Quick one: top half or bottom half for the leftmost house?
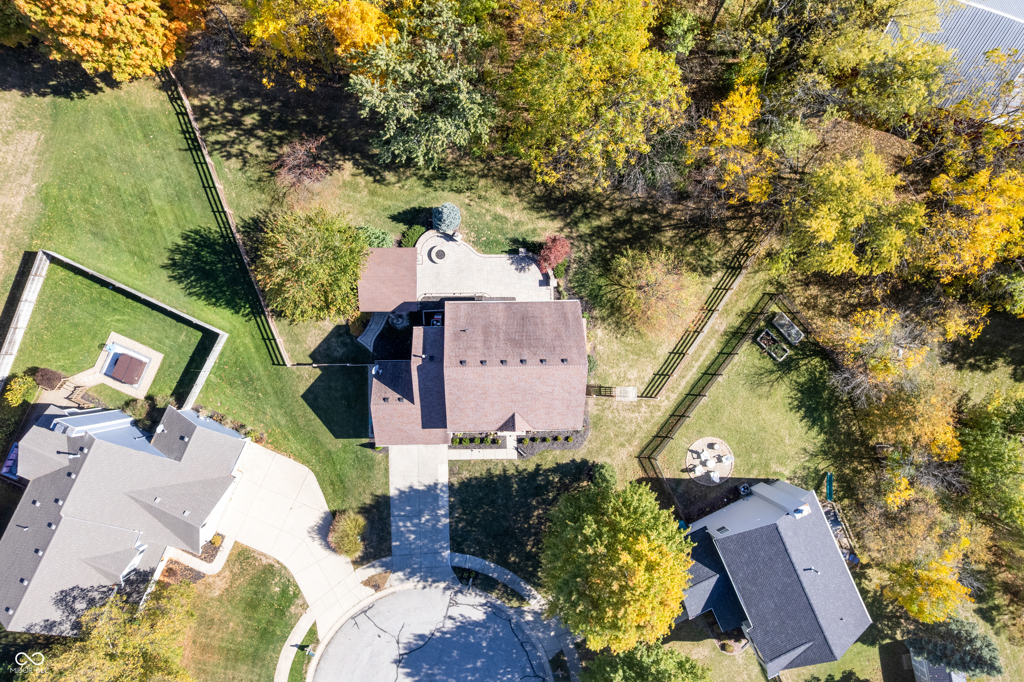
bottom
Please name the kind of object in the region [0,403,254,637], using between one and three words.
house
